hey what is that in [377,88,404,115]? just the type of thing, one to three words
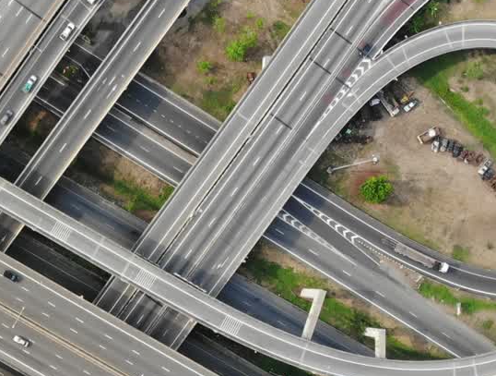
truck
